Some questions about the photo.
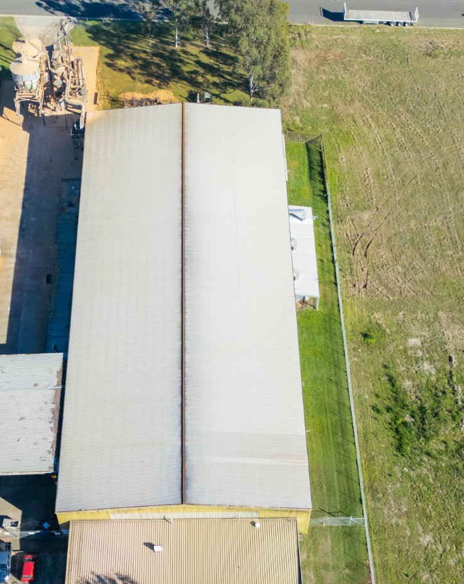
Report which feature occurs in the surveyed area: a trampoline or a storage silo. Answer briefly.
storage silo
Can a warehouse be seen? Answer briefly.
Yes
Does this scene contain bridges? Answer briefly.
No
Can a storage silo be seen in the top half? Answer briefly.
Yes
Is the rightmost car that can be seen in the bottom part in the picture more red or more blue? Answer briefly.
red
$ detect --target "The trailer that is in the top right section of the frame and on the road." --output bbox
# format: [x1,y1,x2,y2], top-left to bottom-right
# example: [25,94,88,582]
[344,4,421,30]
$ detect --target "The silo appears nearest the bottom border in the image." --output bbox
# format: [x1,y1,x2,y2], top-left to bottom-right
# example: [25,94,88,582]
[10,56,48,125]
